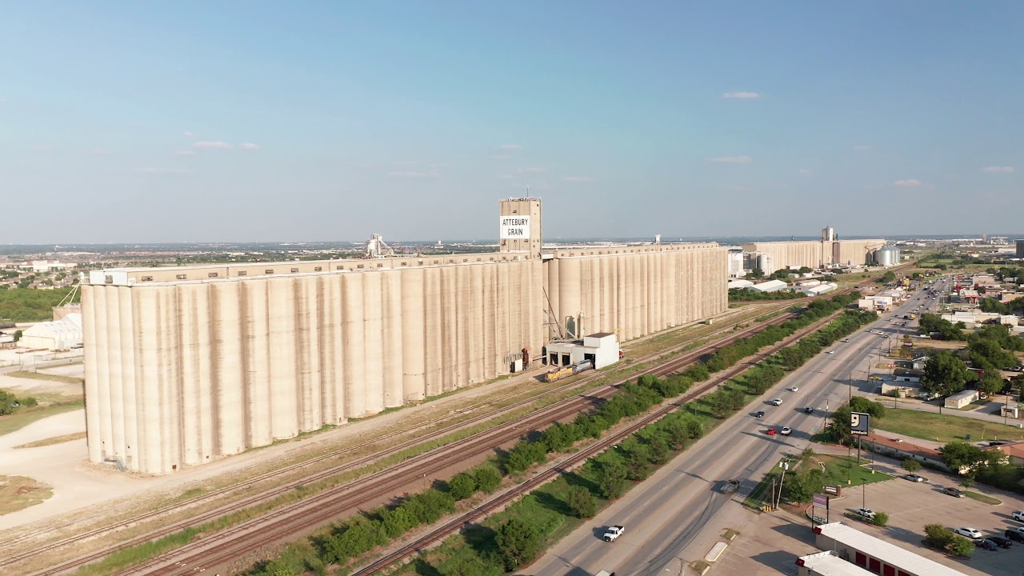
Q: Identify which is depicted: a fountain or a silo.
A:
silo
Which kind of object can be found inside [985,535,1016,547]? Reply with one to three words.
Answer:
vehicle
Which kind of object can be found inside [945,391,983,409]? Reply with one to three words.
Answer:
house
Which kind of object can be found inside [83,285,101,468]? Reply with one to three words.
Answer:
silo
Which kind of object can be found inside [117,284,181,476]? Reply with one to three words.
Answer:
silo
